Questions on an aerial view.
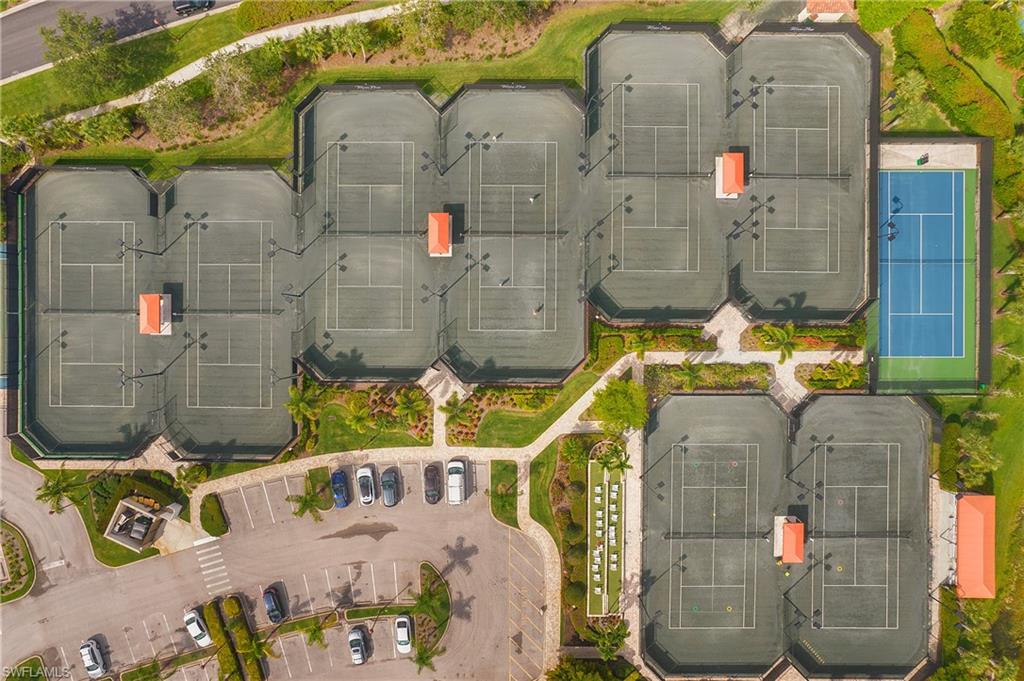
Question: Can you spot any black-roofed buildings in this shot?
No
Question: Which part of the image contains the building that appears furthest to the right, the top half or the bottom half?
bottom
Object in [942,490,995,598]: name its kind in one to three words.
building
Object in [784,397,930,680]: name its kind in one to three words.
tennis court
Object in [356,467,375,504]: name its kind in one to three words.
car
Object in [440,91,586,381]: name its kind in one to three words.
tennis court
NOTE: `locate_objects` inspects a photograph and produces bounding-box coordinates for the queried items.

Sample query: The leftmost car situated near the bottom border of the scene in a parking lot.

[78,639,105,677]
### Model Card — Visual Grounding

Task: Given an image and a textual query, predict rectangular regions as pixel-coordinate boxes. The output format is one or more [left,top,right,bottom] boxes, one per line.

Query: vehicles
[395,616,413,653]
[447,461,465,505]
[182,610,209,647]
[330,469,349,508]
[379,468,398,506]
[356,467,375,504]
[176,0,213,15]
[78,639,105,677]
[348,627,367,666]
[260,586,283,624]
